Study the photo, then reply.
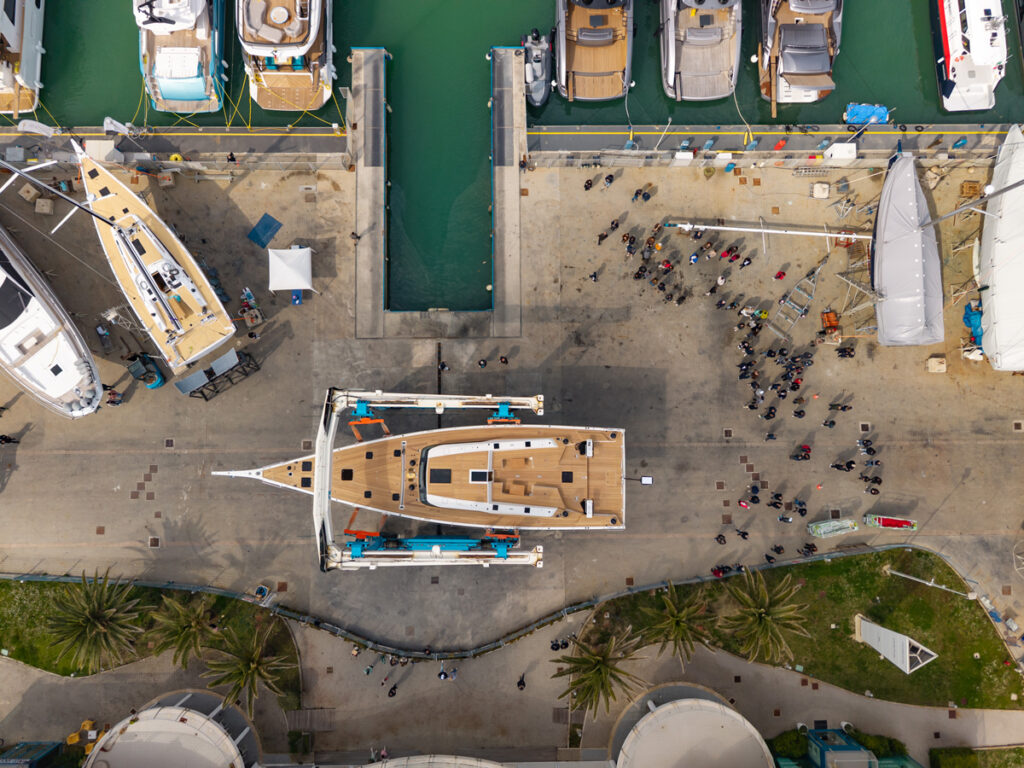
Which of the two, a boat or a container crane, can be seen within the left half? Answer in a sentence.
It is a boat that can be seen within the left half.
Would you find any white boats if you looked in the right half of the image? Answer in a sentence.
Yes, a white boat can be seen in the right half of the image.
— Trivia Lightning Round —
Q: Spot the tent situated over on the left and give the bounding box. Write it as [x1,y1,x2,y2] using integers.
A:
[269,247,322,299]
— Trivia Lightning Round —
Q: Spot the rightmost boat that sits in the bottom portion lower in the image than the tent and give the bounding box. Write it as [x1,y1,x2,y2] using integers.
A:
[211,425,652,529]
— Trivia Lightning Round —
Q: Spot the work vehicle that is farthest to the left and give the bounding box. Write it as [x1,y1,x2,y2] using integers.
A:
[129,355,168,390]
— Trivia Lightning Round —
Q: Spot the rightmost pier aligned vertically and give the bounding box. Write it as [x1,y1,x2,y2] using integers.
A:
[490,46,526,336]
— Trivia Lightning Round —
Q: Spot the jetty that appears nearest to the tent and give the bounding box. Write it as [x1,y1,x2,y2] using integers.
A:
[351,46,389,336]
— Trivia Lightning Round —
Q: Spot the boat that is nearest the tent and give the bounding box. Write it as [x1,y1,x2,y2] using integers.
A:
[0,139,235,367]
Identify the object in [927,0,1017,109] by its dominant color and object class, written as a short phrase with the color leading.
white boat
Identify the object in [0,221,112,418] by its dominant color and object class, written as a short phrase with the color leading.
white boat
